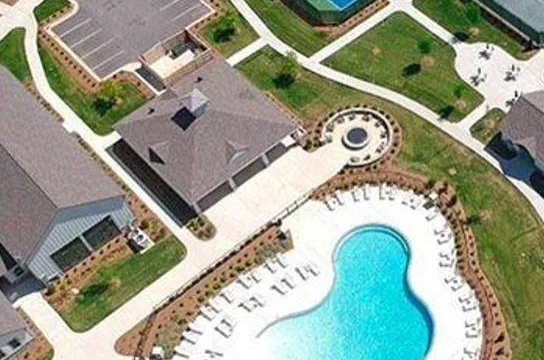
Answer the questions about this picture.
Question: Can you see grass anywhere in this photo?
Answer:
Yes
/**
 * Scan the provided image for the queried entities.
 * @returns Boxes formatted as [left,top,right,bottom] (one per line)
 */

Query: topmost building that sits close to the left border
[0,64,138,308]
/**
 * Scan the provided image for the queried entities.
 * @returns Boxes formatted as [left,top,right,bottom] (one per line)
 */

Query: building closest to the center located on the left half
[112,54,307,218]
